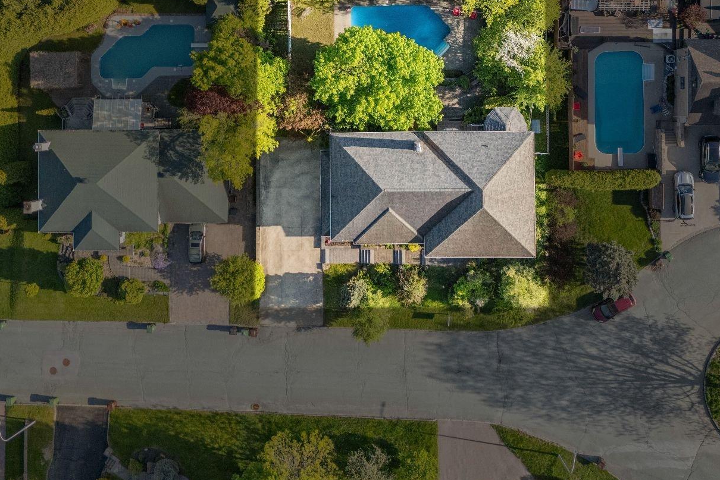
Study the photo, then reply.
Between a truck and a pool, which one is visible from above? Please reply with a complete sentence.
Of the two, only a pool appears.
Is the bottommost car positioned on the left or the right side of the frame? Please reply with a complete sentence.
It is on the right.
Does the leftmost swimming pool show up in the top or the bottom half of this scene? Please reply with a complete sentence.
You can find the leftmost swimming pool in the top half.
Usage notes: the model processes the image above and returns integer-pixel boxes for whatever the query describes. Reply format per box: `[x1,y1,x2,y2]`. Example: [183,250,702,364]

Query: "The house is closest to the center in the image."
[320,106,536,258]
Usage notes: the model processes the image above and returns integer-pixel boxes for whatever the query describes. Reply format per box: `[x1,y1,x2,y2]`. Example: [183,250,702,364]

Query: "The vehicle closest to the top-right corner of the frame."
[695,131,720,185]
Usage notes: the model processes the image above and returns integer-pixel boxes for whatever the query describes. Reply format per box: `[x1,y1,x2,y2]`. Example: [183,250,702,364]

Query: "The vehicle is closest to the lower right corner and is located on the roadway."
[587,287,640,325]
